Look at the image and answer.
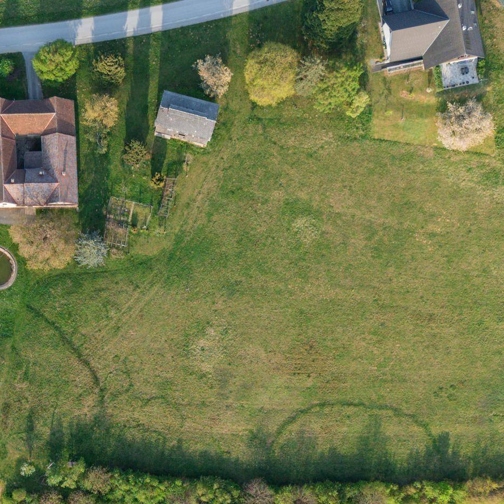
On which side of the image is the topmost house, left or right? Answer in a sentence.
The topmost house appears in the right half of the scene.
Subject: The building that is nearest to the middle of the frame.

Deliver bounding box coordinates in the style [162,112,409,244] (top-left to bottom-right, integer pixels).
[154,90,219,146]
